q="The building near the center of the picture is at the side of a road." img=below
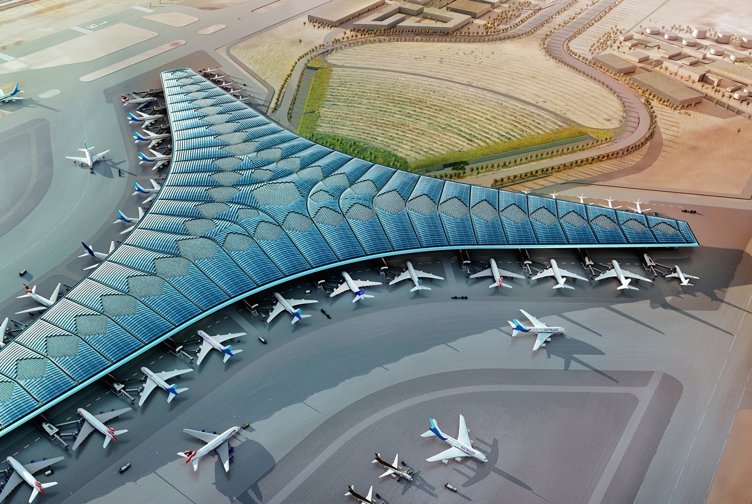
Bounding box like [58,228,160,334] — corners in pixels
[0,65,706,433]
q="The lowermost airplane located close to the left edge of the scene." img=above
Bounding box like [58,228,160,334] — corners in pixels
[1,459,65,504]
